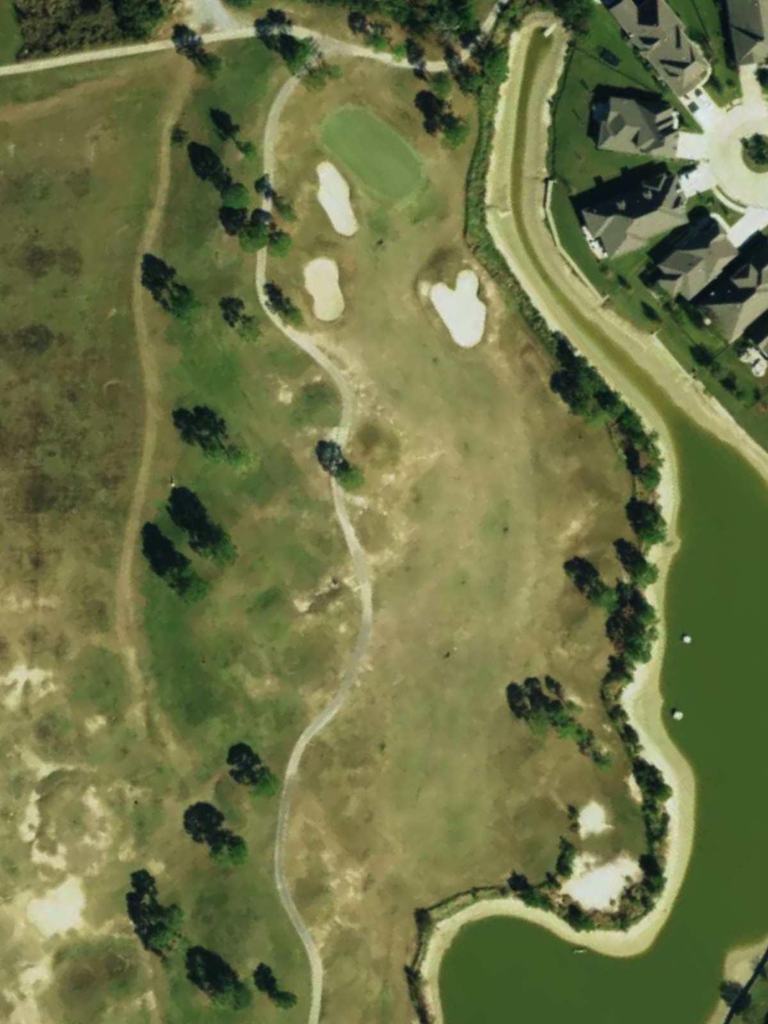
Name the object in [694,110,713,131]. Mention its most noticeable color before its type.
white car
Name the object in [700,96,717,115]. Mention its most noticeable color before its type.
white car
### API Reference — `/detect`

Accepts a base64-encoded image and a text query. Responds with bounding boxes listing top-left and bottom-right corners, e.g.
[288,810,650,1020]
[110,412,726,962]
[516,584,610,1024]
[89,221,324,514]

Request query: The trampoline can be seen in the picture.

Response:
[601,47,623,67]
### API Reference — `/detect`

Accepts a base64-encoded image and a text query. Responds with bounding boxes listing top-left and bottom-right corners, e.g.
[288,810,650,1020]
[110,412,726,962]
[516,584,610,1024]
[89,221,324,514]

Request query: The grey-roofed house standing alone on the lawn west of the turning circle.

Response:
[598,96,683,158]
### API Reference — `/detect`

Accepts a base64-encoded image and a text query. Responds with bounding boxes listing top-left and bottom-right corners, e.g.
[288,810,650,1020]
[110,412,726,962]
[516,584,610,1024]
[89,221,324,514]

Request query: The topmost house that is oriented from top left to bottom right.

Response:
[602,0,712,98]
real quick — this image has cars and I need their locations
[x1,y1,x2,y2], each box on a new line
[700,96,717,115]
[694,110,713,131]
